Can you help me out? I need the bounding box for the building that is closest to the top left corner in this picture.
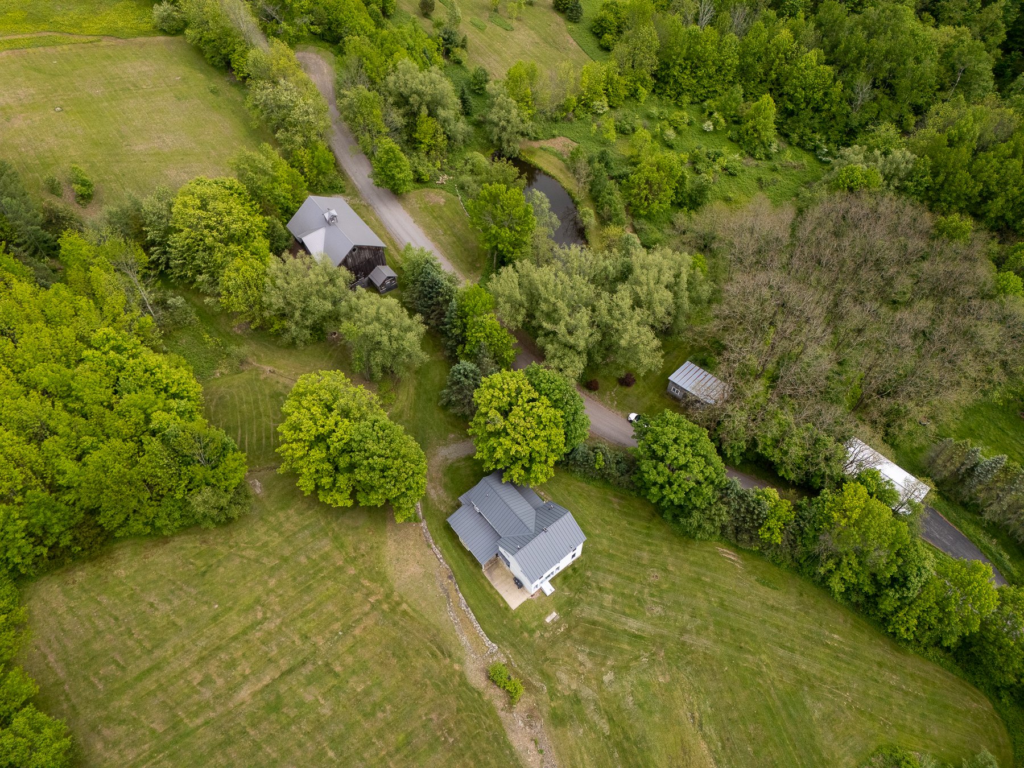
[287,195,386,289]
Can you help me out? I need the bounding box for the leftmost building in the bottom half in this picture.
[445,473,587,594]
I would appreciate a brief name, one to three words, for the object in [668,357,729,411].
shed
